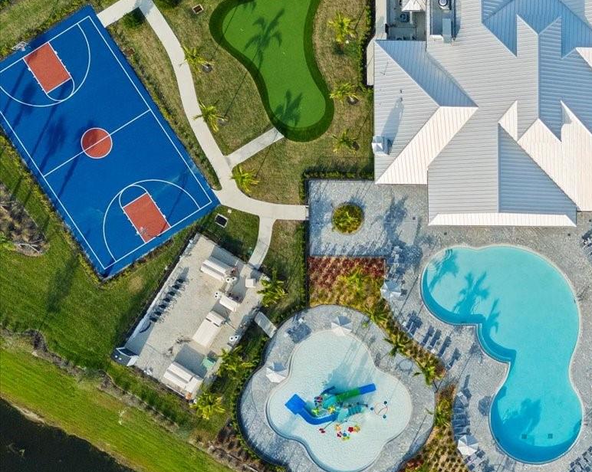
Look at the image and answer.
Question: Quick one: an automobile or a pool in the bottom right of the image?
pool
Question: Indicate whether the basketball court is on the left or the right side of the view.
left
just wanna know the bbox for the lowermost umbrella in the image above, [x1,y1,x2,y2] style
[457,435,478,455]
